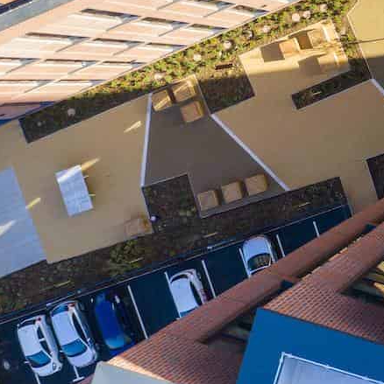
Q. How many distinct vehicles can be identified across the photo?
5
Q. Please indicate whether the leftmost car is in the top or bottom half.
bottom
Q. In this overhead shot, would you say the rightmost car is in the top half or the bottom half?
bottom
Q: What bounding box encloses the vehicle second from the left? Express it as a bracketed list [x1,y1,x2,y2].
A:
[43,300,98,372]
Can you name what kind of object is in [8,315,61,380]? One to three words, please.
car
